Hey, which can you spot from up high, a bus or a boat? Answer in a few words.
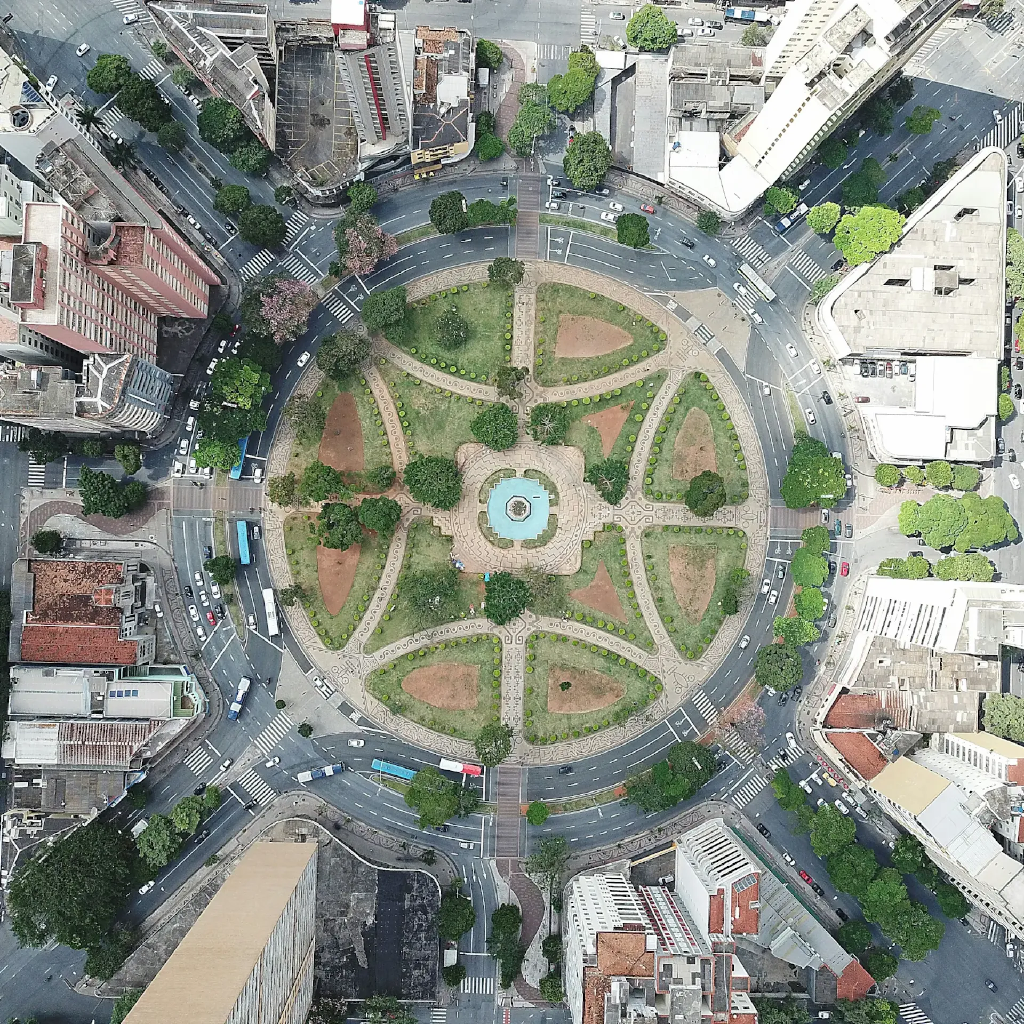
bus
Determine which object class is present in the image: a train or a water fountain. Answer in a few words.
water fountain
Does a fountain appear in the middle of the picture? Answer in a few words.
Yes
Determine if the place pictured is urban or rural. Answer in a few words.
urban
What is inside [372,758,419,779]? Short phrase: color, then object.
blue bus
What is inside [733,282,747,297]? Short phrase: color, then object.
white car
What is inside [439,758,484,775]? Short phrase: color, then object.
white vehicle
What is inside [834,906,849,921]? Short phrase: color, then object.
black car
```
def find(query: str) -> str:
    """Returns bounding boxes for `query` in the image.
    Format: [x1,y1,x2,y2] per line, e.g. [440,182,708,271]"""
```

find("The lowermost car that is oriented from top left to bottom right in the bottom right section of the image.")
[984,977,997,992]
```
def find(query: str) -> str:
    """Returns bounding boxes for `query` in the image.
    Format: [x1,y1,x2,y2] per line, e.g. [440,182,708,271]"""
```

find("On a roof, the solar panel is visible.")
[733,874,756,893]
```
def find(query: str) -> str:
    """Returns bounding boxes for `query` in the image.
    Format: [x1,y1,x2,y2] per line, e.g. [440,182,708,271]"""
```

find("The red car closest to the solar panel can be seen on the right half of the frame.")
[798,868,813,884]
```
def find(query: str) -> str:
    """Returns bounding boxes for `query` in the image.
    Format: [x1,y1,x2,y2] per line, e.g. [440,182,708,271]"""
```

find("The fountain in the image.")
[487,477,550,541]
